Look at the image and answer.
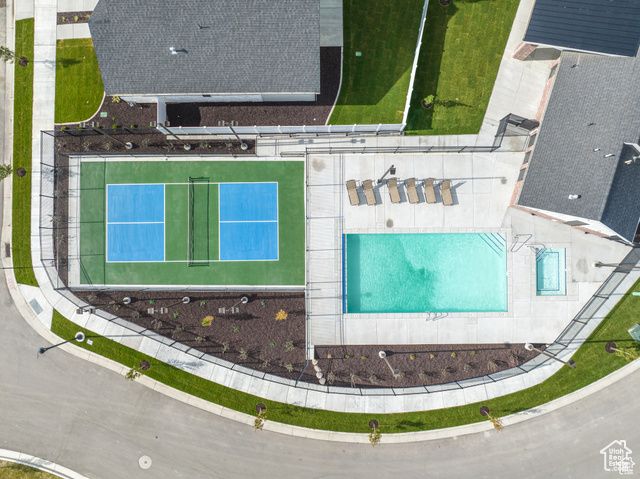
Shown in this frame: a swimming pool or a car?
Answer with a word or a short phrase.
swimming pool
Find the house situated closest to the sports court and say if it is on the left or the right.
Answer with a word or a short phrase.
left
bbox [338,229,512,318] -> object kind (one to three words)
swimming pool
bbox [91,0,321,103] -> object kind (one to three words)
house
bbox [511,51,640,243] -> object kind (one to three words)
building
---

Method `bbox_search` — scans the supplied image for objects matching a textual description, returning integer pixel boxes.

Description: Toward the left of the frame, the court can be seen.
[69,155,306,291]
